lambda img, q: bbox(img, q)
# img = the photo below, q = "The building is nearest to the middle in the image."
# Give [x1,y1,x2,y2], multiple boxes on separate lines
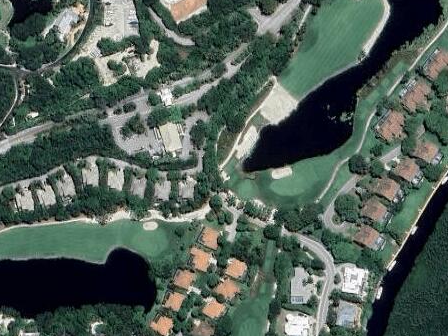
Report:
[179,176,196,200]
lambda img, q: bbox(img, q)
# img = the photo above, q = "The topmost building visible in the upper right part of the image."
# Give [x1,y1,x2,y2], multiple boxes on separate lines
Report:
[424,50,448,82]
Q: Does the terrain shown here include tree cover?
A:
Yes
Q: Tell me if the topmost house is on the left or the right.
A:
left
